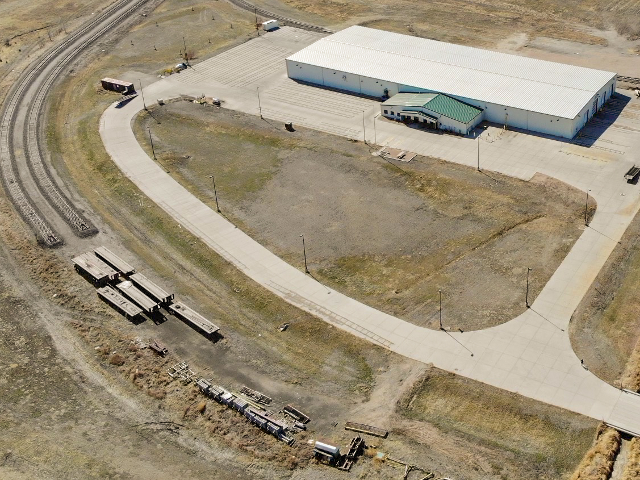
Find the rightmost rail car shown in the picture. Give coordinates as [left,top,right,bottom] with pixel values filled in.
[169,301,219,335]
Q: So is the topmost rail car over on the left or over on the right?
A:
left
